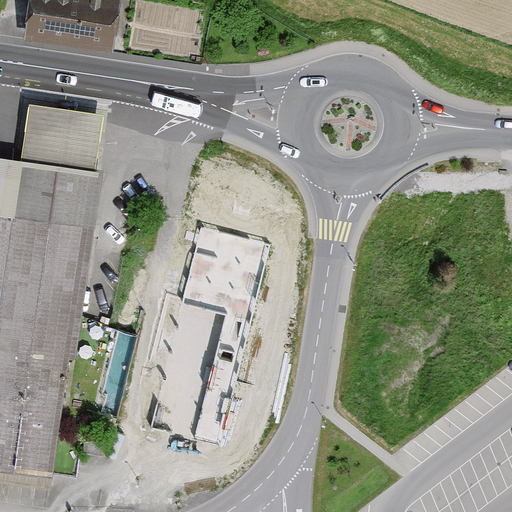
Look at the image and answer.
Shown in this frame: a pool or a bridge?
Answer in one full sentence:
This aerial view contains a pool.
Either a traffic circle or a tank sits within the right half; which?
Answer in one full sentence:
The feature located within the right half is a traffic circle.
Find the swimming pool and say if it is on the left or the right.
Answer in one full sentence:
You can find the swimming pool on the left side of the picture.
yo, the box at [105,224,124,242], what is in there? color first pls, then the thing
white car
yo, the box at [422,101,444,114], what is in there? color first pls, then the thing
red vehicle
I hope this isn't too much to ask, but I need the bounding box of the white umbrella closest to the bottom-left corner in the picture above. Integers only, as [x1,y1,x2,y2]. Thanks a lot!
[79,344,93,358]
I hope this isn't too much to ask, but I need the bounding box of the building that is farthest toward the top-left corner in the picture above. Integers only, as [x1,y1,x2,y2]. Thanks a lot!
[24,0,120,52]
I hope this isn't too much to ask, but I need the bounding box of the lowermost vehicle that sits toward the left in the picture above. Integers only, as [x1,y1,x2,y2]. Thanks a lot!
[172,440,201,453]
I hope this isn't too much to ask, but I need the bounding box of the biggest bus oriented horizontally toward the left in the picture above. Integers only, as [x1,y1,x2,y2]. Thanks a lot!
[152,92,205,118]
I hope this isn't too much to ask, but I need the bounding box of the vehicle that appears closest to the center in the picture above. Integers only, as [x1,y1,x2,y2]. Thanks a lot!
[280,144,300,157]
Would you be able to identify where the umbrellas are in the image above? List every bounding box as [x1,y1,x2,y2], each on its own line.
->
[90,325,104,339]
[79,344,93,358]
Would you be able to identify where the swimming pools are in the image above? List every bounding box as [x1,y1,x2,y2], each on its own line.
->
[101,326,137,418]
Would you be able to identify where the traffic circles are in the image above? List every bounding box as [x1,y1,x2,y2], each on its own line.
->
[256,54,424,198]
